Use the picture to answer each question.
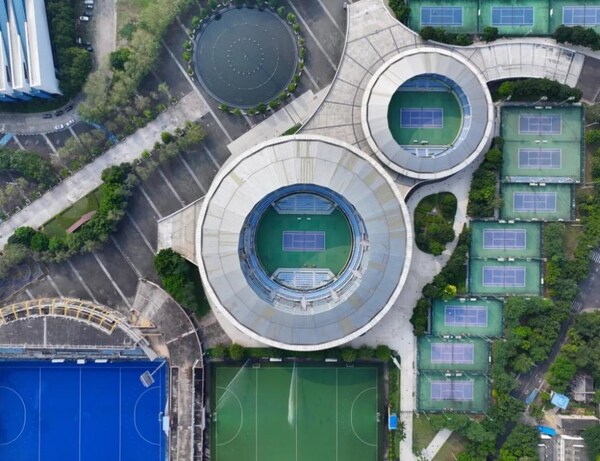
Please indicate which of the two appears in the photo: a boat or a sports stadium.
sports stadium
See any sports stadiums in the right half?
Yes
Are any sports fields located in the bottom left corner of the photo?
Yes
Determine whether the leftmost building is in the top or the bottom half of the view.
top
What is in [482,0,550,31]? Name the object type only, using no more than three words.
tennis court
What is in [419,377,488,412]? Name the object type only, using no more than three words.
tennis court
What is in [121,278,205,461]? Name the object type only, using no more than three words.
building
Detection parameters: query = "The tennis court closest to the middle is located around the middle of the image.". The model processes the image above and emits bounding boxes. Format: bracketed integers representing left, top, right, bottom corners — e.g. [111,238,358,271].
[255,193,353,291]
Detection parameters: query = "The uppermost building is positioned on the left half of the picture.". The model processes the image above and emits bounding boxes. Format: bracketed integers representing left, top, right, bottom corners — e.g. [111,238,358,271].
[0,0,63,104]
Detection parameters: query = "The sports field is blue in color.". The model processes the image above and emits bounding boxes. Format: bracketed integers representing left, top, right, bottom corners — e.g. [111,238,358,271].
[0,361,169,461]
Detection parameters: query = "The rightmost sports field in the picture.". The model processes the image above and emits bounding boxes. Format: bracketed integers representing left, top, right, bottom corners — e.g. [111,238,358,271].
[212,363,379,461]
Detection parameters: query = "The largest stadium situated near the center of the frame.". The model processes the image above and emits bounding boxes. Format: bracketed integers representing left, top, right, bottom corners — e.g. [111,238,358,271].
[196,135,412,350]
